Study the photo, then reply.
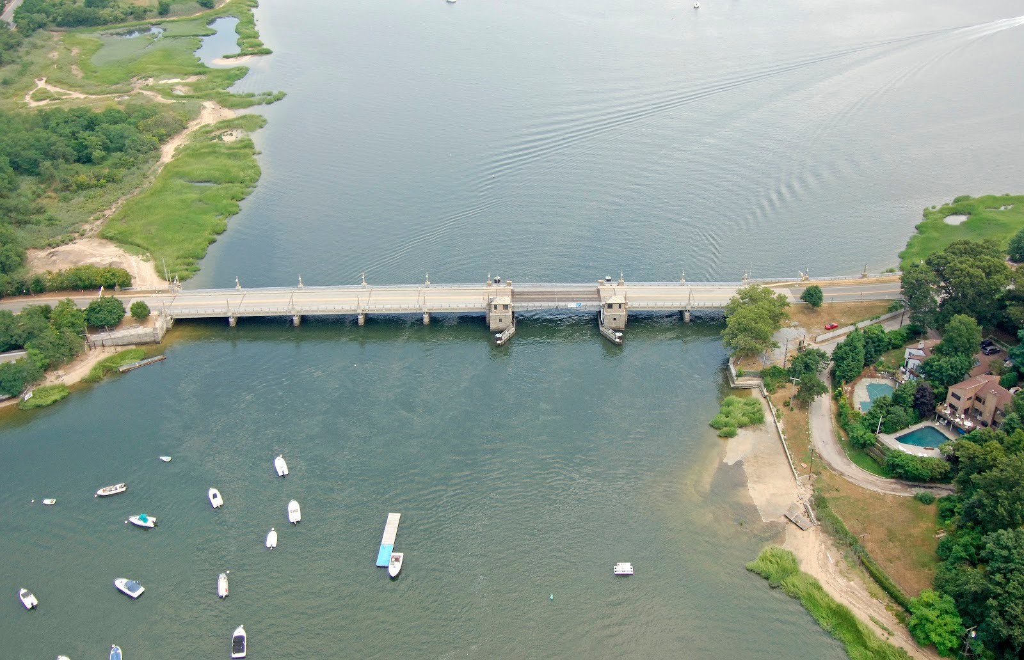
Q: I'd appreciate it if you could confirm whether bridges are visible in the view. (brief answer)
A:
Yes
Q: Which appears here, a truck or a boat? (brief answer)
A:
boat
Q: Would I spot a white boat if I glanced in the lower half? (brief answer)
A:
Yes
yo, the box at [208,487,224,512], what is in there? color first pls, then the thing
white boat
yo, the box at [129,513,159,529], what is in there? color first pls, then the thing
white boat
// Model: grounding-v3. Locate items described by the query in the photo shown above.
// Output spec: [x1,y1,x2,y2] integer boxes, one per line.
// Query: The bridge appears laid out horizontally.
[147,276,815,328]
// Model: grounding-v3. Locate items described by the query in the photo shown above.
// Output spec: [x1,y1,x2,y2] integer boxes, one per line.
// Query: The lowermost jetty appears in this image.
[378,513,401,568]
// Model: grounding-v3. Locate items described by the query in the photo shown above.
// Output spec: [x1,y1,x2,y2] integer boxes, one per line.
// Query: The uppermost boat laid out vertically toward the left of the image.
[275,454,288,479]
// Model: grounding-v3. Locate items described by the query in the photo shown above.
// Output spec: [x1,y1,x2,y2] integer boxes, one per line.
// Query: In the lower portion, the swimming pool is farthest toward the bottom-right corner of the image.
[898,428,947,448]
